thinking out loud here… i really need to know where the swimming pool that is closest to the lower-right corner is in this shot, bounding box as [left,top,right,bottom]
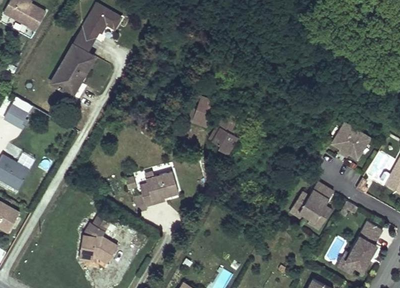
[324,238,346,264]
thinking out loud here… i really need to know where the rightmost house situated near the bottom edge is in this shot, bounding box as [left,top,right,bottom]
[340,220,382,276]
